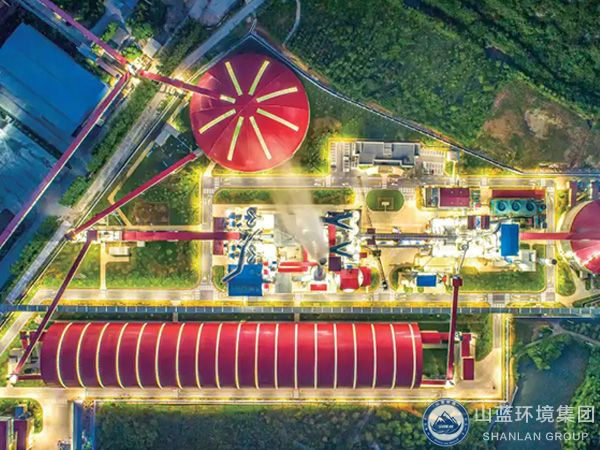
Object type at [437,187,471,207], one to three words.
building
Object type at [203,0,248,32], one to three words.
building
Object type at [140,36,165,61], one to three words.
house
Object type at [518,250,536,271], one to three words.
house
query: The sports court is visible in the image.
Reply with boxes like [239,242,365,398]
[366,186,404,212]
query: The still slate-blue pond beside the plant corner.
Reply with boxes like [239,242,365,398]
[492,335,591,450]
